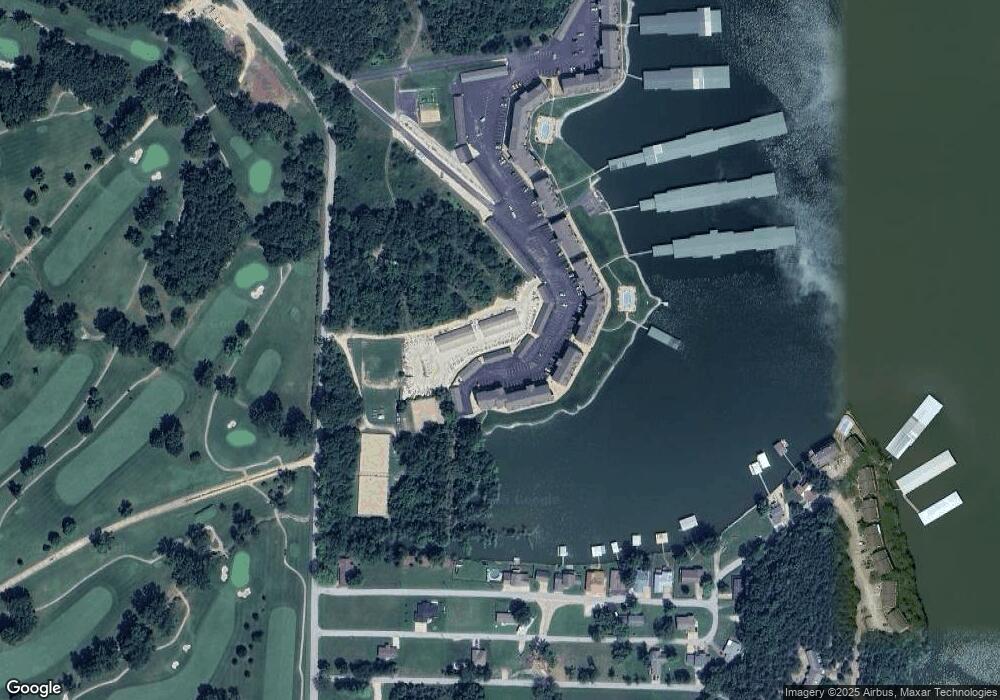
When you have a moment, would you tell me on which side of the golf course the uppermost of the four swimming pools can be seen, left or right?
on the right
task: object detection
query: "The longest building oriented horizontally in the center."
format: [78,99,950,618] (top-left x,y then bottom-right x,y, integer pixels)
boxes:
[477,383,552,409]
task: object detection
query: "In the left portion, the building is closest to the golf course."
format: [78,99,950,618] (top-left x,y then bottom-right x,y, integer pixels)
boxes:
[338,560,353,590]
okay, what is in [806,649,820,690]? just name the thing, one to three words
building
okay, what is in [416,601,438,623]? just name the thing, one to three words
house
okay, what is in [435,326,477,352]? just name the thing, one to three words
shed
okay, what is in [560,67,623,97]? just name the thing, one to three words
building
